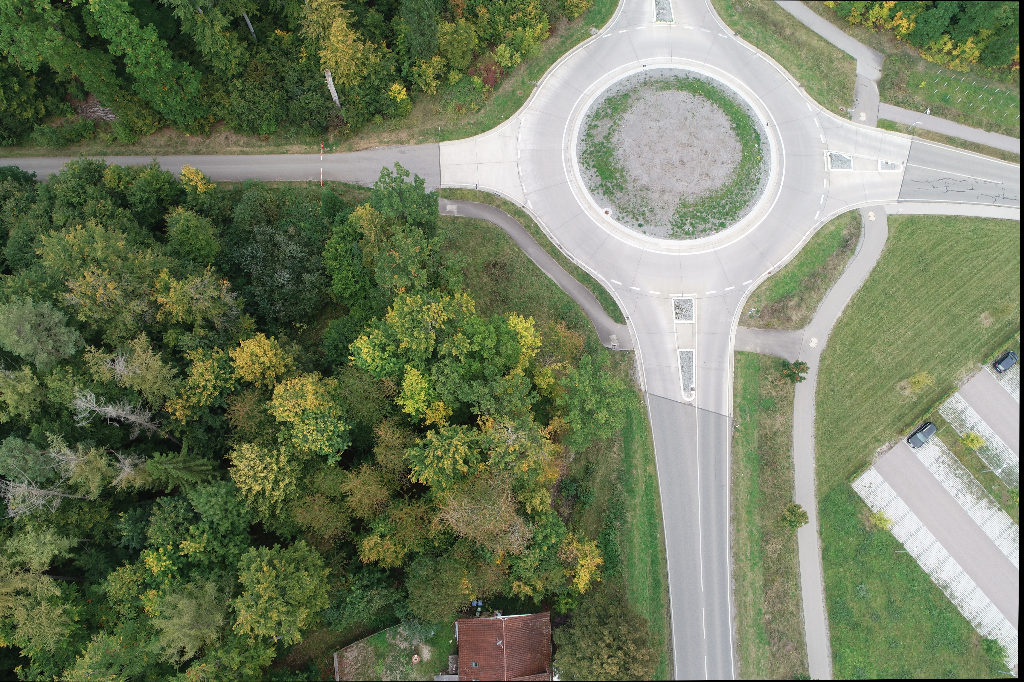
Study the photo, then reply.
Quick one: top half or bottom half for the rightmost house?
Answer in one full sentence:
It is in the bottom half that the rightmost house appears.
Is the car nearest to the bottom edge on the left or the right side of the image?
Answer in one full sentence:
The car nearest to the bottom edge appears in the right half of the scene.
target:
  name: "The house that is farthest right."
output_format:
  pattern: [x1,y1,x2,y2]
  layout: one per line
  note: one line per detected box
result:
[455,611,554,682]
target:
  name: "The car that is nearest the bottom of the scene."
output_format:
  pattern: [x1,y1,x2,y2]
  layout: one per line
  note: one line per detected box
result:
[907,422,938,448]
